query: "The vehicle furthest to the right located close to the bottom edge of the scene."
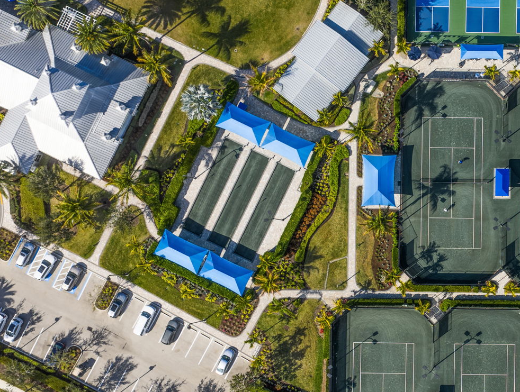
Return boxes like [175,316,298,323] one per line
[217,348,237,374]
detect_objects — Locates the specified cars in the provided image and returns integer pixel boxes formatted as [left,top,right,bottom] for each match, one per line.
[35,254,57,281]
[217,348,237,374]
[162,317,183,345]
[62,264,86,290]
[5,316,25,342]
[0,310,11,336]
[108,291,130,318]
[135,306,158,335]
[15,242,37,268]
